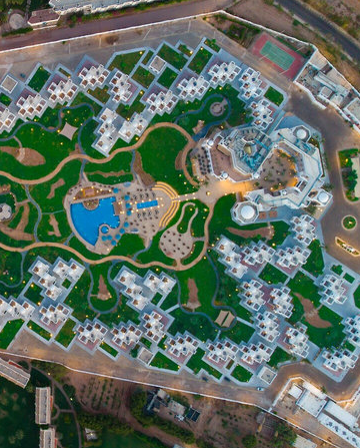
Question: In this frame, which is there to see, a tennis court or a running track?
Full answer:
The image shows a tennis court.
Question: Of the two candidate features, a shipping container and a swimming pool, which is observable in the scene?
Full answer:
This aerial view contains a swimming pool.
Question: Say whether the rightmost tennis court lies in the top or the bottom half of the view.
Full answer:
The rightmost tennis court is in the top half of the image.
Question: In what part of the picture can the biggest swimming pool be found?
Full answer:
Look in the left portion of the view to spot the biggest swimming pool.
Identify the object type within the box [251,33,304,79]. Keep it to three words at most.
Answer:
tennis court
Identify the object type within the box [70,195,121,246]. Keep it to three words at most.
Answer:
swimming pool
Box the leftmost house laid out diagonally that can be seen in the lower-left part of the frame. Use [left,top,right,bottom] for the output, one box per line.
[0,357,30,387]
